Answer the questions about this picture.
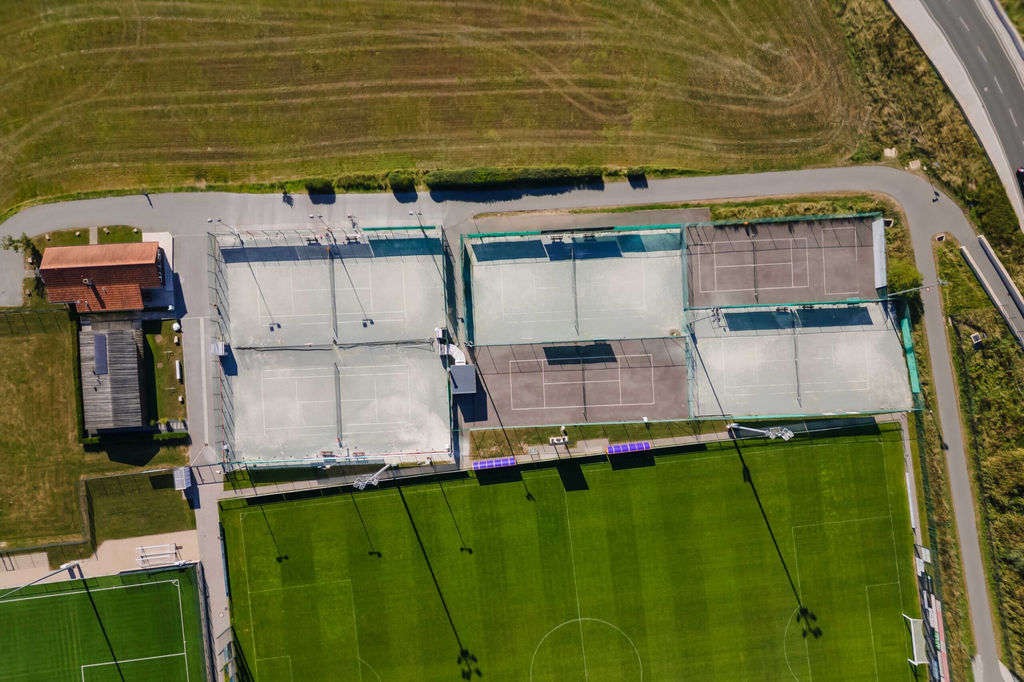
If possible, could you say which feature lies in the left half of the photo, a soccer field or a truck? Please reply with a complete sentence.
Visible in the left half of the photo is a soccer field.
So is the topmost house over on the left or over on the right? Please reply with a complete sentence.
The topmost house is on the left side of the image.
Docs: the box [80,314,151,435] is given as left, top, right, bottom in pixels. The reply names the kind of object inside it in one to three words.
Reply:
shed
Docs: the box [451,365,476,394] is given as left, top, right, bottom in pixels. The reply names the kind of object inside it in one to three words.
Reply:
shed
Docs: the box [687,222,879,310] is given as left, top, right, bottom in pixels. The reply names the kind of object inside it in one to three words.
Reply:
tennis court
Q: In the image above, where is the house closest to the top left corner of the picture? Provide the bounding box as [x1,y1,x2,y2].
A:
[39,231,174,319]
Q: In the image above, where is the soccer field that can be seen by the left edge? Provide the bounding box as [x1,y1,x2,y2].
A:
[0,566,207,682]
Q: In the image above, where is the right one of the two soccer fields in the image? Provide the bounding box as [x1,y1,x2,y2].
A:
[218,422,929,682]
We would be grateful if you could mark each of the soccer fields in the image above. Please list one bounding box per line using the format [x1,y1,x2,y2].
[0,566,207,682]
[218,422,929,682]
